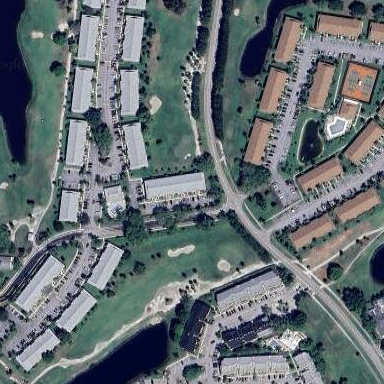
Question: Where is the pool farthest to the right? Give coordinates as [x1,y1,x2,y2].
[323,114,353,141]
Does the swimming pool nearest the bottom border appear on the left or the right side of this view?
right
